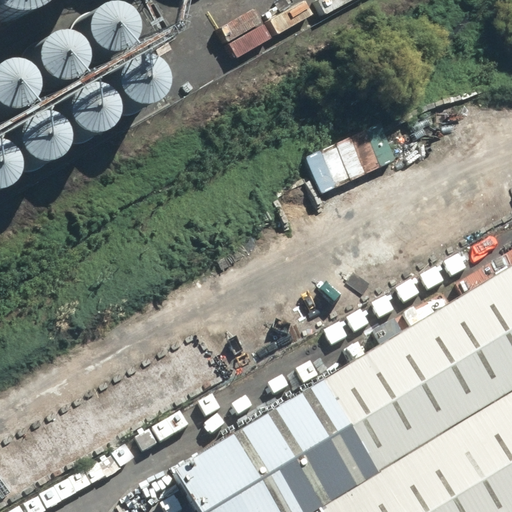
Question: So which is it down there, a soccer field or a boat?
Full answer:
Looking from above, you can make out a boat.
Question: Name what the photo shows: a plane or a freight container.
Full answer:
Visible in the photo is a freight container.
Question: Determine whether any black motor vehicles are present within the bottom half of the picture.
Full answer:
Yes, there is a black motor vehicle within the bottom half of the picture.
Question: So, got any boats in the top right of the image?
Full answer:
No, no boat can be made out in the top right of the image.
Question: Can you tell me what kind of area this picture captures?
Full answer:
The picture captures an industrial area.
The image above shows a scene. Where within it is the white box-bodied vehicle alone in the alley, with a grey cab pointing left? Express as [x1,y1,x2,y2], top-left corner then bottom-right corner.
[224,394,252,417]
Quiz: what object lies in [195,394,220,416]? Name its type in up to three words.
building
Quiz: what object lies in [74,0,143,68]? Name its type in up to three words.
silo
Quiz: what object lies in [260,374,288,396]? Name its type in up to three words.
truck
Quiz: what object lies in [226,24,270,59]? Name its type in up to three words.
shipping container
